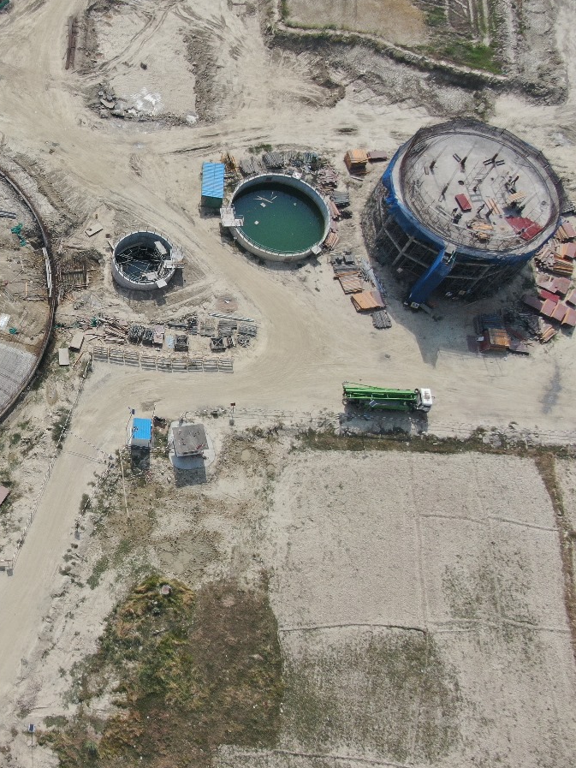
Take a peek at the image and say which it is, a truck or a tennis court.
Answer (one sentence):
There is a truck in the scene.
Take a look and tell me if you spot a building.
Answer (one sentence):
Yes, there's a building down there.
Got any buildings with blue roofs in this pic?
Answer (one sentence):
Yes, the image includes a building with a blue roof.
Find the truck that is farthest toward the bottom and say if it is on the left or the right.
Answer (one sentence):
The truck that is farthest toward the bottom sits on the right side.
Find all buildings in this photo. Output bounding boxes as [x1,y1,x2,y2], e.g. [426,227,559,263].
[199,161,225,210]
[169,420,214,468]
[130,418,152,447]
